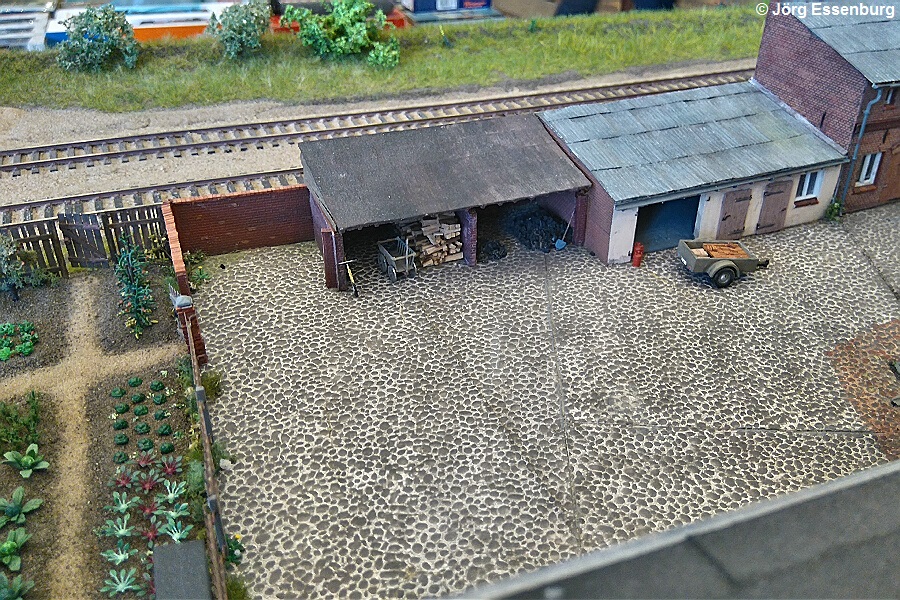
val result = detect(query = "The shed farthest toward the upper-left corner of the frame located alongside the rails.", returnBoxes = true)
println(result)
[295,112,590,294]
